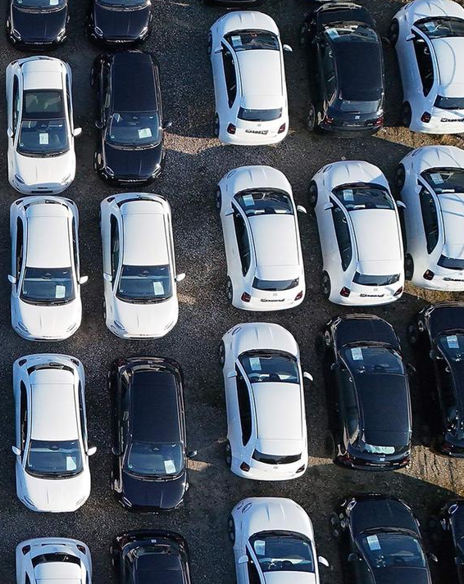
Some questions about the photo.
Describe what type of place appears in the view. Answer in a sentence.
What you see here is a parking lot.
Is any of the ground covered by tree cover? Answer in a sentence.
No, the picture contains no tree cover.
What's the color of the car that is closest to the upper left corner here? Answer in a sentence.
In this view, the car that is closest to the upper left corner is black.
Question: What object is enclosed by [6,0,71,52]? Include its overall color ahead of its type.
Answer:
black car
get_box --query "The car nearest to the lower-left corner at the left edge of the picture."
[16,538,92,584]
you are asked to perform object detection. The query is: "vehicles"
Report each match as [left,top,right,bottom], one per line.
[4,55,83,194]
[310,163,404,305]
[394,149,464,290]
[11,353,97,512]
[112,356,200,514]
[94,48,173,187]
[113,530,193,584]
[6,0,71,52]
[101,192,186,339]
[332,493,434,584]
[217,168,306,310]
[16,538,92,584]
[219,325,311,479]
[89,0,155,49]
[416,303,464,457]
[8,194,90,341]
[391,1,464,133]
[321,315,418,469]
[226,497,323,584]
[208,13,291,145]
[302,5,389,137]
